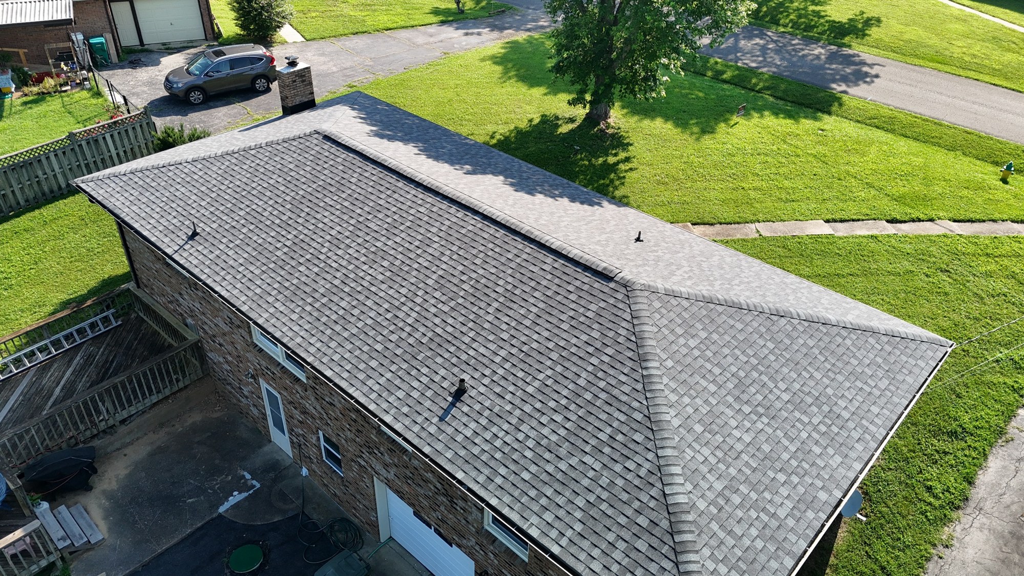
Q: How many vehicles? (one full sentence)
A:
The picture shows just 1 vehicle.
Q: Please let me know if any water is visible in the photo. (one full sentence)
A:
No, water can't be seen anywhere here.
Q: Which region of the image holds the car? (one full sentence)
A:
The car appears toward the top left of the photo.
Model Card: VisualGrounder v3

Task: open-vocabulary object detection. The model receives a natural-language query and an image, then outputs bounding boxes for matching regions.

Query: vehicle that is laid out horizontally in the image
[162,41,278,104]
